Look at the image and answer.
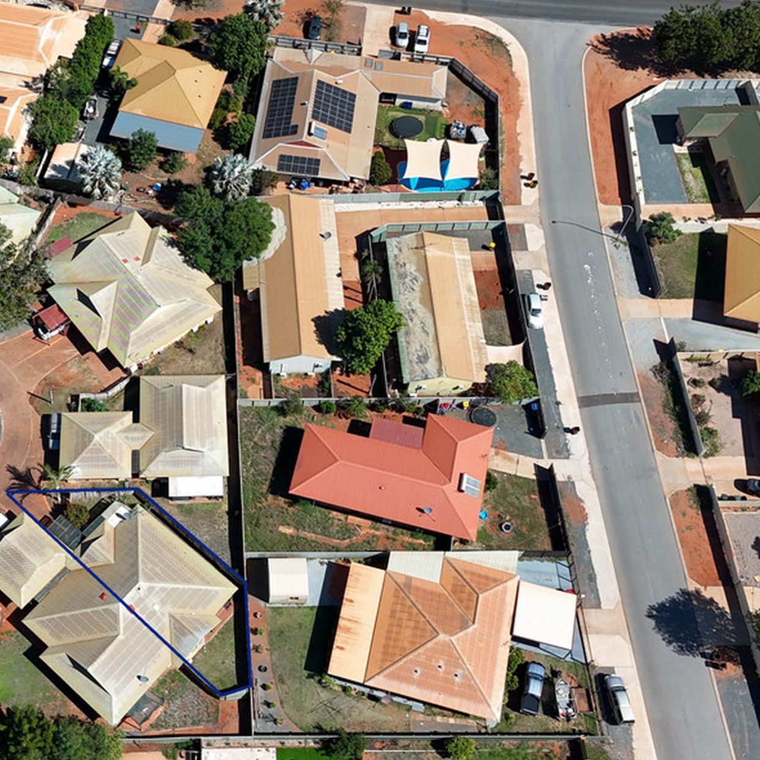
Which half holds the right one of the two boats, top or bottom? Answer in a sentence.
You can find the right one of the two boats in the bottom half.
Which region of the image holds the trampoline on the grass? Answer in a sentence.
The trampoline on the grass sits in the top section of the image.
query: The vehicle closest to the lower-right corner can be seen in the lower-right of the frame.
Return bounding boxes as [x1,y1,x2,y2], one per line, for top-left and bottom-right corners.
[603,669,639,727]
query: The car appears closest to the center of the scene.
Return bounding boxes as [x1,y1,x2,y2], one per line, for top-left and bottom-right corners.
[523,292,545,327]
